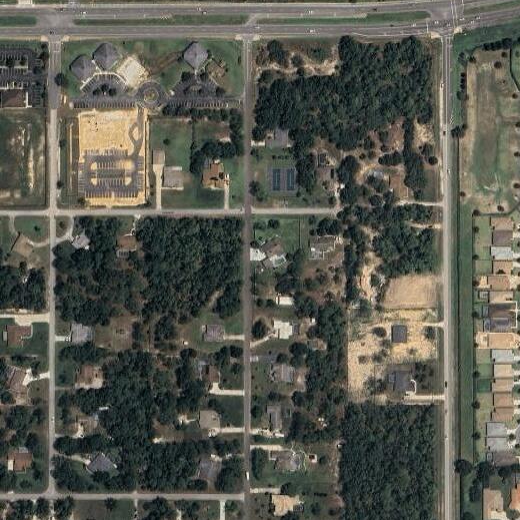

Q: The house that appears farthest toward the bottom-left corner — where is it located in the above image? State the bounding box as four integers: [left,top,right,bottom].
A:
[10,449,29,472]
